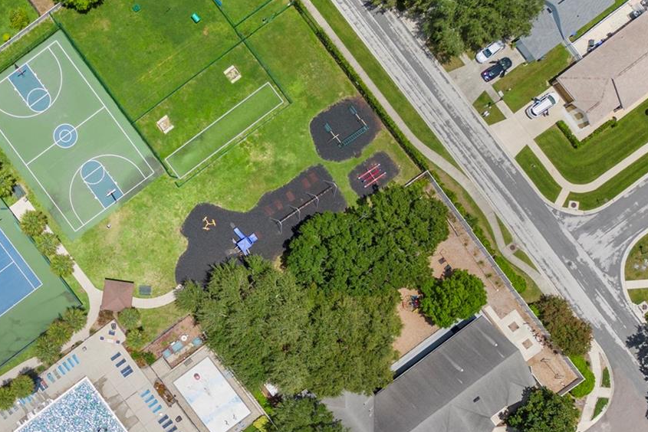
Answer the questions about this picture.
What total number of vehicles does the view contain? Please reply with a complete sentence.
The photo contains 3 vehicles.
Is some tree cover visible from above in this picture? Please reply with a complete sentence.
Yes, the picture does contain tree cover.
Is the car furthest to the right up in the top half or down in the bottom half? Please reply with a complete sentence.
The top half of the photo is where the car furthest to the right is.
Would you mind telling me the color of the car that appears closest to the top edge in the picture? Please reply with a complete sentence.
The car that appears closest to the top edge looks white in the image.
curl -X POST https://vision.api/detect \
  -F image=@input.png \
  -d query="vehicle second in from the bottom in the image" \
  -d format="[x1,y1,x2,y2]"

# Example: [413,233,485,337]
[479,57,510,81]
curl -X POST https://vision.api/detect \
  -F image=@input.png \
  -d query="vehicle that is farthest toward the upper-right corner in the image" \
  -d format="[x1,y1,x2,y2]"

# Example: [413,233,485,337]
[525,93,556,117]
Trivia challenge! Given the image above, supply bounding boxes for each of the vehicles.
[479,57,510,81]
[525,93,556,117]
[472,38,503,63]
